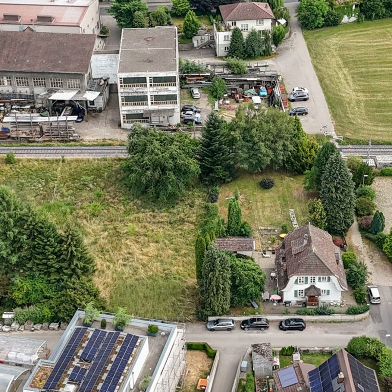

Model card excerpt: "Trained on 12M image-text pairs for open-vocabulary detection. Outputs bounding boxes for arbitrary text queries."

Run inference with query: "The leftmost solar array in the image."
[278,365,297,392]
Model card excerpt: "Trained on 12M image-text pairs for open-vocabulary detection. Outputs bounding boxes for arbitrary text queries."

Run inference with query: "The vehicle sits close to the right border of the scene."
[366,281,382,303]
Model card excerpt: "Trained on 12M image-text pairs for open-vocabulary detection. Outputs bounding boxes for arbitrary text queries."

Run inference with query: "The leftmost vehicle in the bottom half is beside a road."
[207,319,236,332]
